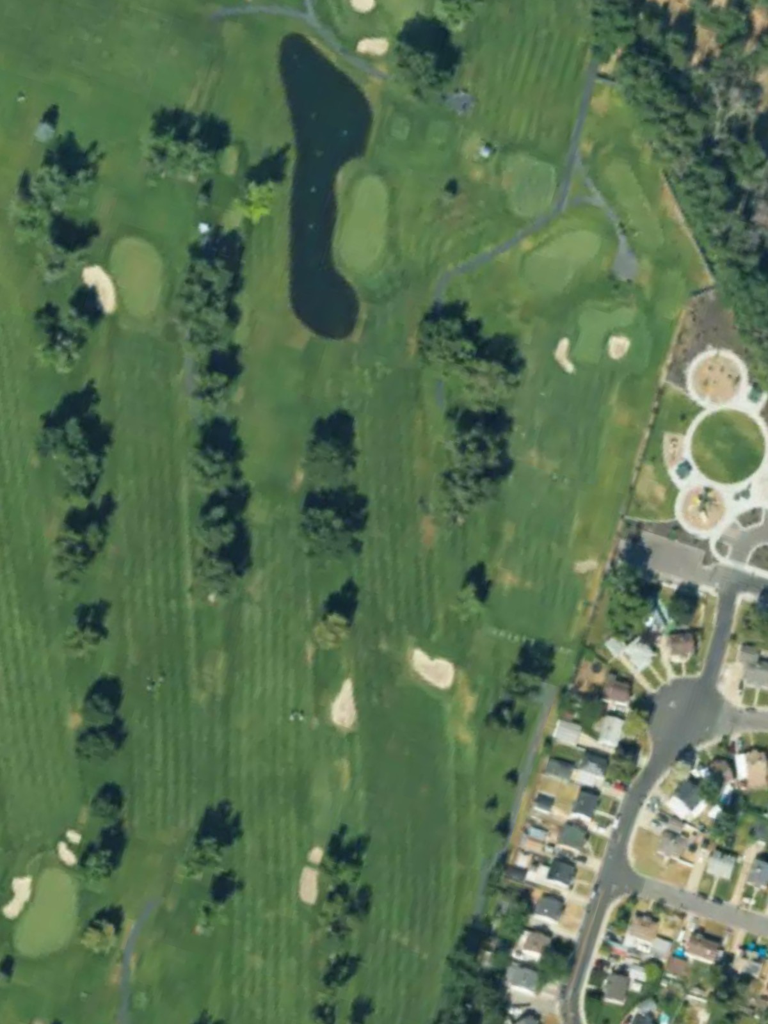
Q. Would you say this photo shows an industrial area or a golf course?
golf course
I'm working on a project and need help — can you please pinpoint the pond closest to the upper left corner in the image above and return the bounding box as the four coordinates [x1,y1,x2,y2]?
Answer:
[280,34,371,338]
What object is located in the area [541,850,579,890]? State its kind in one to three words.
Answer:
house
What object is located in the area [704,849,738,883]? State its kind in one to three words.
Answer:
house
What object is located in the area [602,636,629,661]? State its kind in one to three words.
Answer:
building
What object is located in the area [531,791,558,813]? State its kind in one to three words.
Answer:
shed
